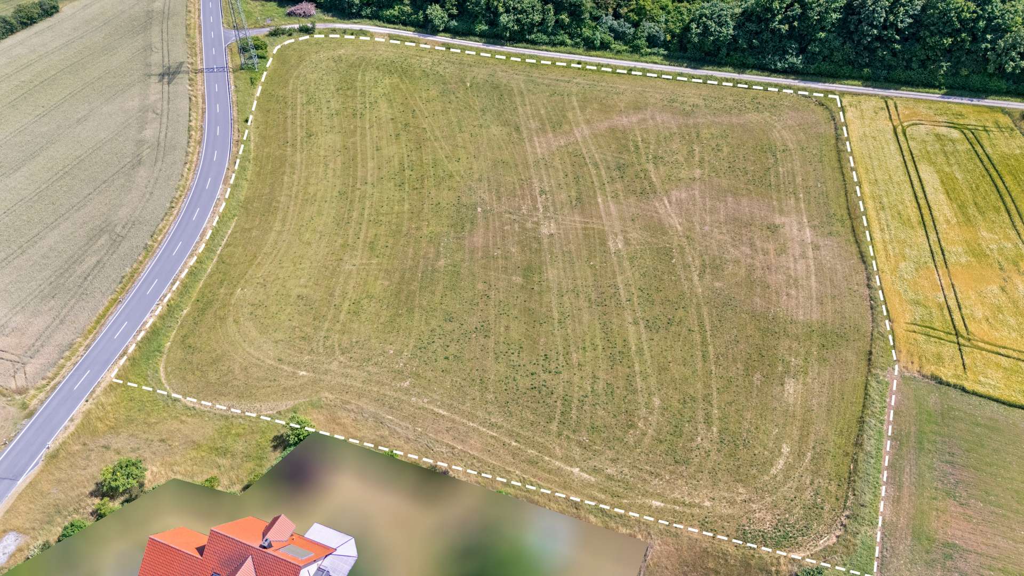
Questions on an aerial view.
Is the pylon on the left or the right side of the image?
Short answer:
left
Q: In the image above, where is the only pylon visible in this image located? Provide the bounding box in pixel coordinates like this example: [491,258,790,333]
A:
[218,0,261,71]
